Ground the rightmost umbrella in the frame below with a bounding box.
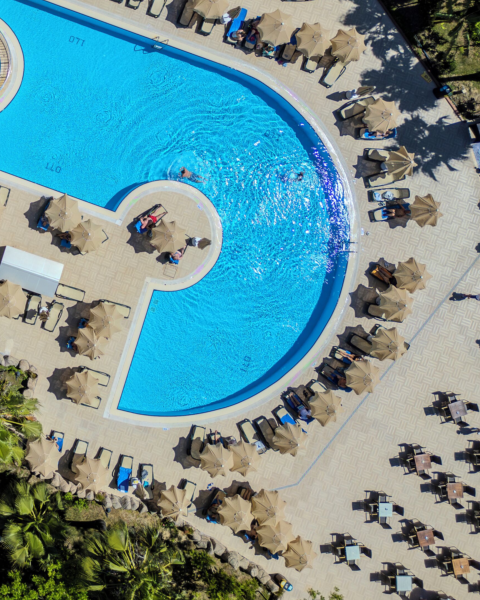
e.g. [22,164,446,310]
[410,194,450,229]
